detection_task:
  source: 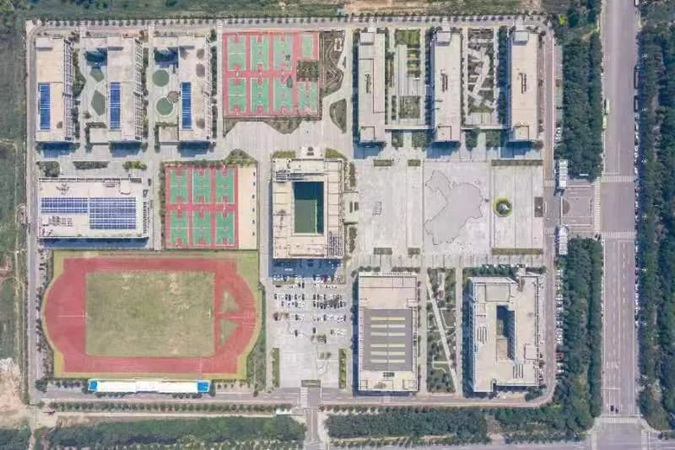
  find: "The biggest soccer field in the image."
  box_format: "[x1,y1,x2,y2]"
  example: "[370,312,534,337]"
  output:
[86,270,214,358]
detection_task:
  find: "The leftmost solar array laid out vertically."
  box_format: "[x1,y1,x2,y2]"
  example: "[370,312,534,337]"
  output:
[38,83,50,128]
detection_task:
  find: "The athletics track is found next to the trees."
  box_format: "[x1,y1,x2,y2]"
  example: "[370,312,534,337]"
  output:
[40,252,261,379]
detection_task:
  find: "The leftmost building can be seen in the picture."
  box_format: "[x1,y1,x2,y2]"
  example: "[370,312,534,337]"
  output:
[35,37,76,144]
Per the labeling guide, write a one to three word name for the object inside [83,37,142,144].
building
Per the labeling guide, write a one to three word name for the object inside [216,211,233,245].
basketball court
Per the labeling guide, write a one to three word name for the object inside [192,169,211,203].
basketball court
